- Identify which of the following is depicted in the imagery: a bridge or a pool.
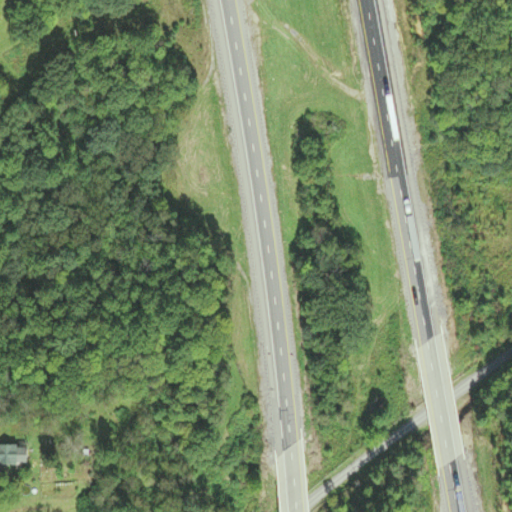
bridge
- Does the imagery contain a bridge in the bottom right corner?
Yes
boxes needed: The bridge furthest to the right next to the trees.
[415,322,466,477]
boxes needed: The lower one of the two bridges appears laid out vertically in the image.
[276,428,309,512]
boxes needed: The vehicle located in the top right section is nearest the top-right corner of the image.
[382,76,400,142]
